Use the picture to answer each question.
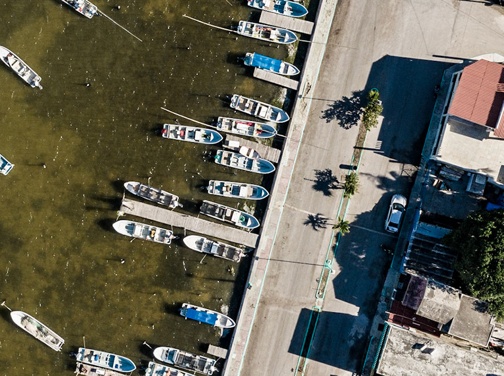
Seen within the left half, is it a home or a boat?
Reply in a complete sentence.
You can see a boat within the left half.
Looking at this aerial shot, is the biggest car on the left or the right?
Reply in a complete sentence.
The biggest car appears in the right half of the scene.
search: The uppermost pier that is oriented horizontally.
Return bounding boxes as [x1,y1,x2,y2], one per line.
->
[259,10,315,35]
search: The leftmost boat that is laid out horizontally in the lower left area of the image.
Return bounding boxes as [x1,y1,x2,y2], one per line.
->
[68,348,135,373]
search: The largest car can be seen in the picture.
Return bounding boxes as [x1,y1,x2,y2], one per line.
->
[383,194,406,234]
